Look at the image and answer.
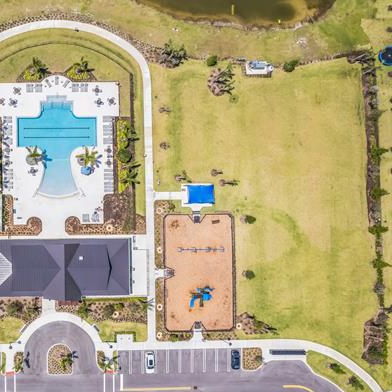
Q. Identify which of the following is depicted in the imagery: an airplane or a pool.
pool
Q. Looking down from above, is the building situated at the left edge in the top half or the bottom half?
bottom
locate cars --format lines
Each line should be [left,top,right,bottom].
[144,351,155,372]
[229,348,240,369]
